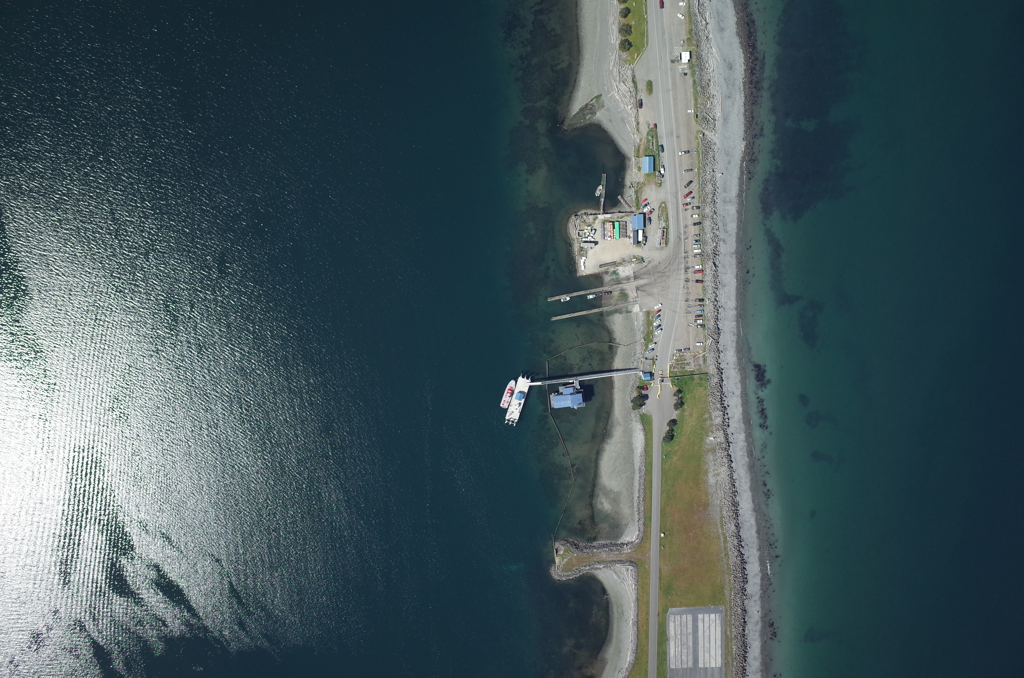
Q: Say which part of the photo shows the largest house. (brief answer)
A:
center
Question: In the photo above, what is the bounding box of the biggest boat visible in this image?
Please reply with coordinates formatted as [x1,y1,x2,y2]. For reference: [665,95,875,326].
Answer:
[500,380,514,409]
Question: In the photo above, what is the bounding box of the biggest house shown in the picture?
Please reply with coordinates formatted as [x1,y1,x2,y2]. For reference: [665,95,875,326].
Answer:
[550,386,585,409]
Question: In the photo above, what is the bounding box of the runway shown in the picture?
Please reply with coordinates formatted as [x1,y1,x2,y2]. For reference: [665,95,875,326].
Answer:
[667,606,725,678]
